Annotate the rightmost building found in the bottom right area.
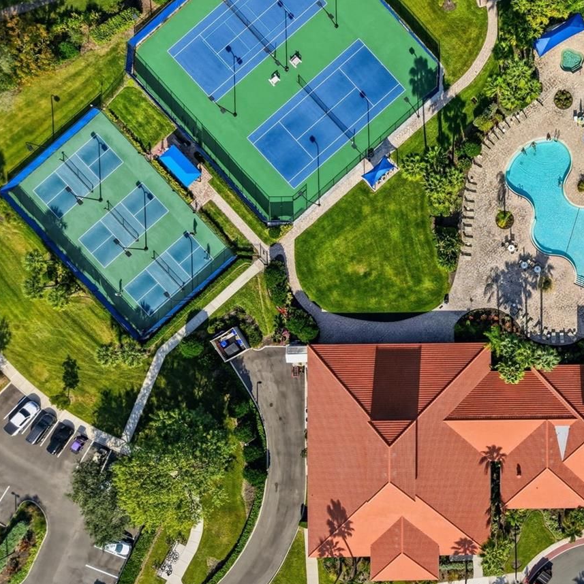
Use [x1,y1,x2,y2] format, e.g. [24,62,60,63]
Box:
[307,345,584,581]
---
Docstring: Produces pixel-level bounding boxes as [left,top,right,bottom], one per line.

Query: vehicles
[100,539,132,560]
[65,436,85,453]
[532,568,553,584]
[1,401,37,435]
[22,412,55,447]
[43,422,73,457]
